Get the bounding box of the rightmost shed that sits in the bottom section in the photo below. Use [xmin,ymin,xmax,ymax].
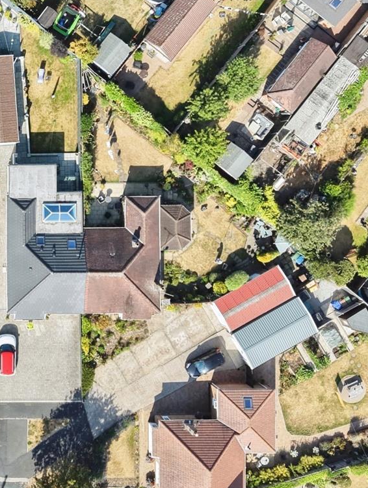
[338,307,368,334]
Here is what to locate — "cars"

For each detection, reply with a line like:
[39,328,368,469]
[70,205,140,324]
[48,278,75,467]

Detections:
[187,349,229,380]
[0,336,19,377]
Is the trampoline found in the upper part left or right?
left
